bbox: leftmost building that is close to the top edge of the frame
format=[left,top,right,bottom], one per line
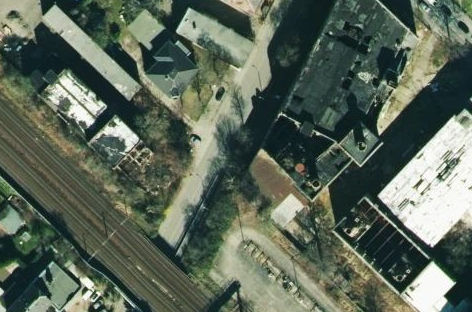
[42,4,140,101]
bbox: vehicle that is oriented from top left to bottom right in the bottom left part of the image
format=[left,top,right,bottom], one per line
[77,275,96,289]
